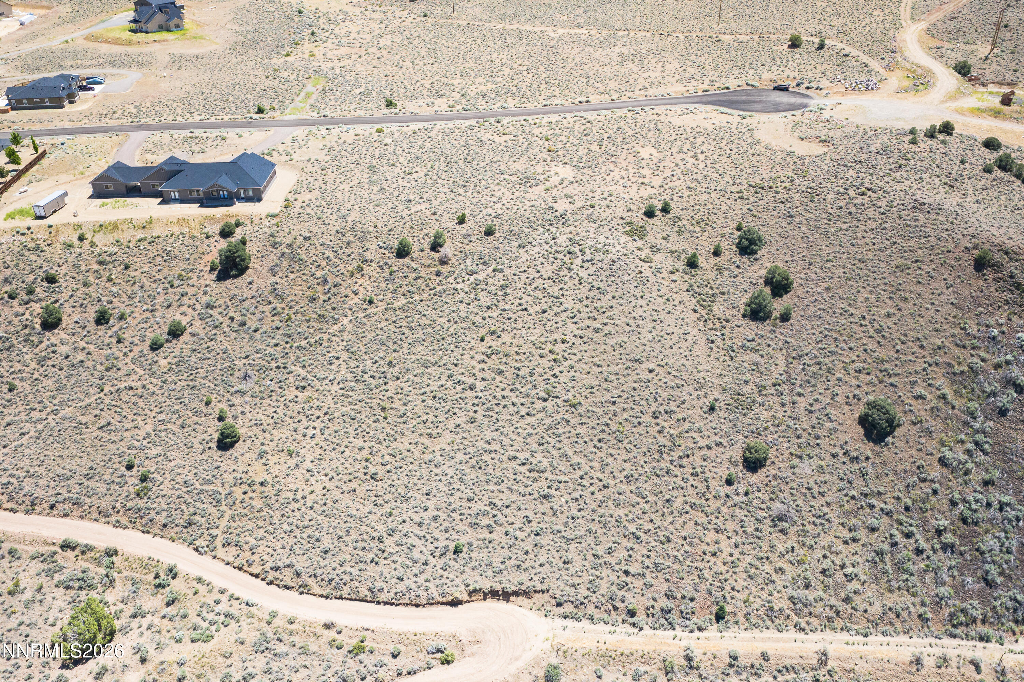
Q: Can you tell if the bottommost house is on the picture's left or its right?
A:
left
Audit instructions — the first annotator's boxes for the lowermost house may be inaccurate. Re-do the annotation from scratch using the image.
[88,152,277,205]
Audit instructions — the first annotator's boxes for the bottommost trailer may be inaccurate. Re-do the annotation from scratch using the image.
[33,188,79,216]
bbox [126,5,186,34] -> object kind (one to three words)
house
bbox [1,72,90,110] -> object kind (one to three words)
house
